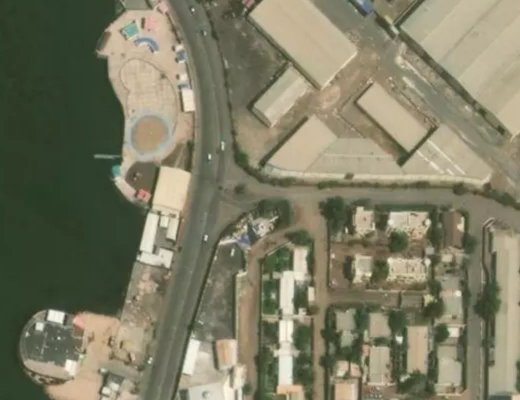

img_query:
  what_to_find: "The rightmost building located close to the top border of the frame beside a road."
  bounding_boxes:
[400,0,520,140]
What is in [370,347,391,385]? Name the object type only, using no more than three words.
house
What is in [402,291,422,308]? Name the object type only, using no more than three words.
shed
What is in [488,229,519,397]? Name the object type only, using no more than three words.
building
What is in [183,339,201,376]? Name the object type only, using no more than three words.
shed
